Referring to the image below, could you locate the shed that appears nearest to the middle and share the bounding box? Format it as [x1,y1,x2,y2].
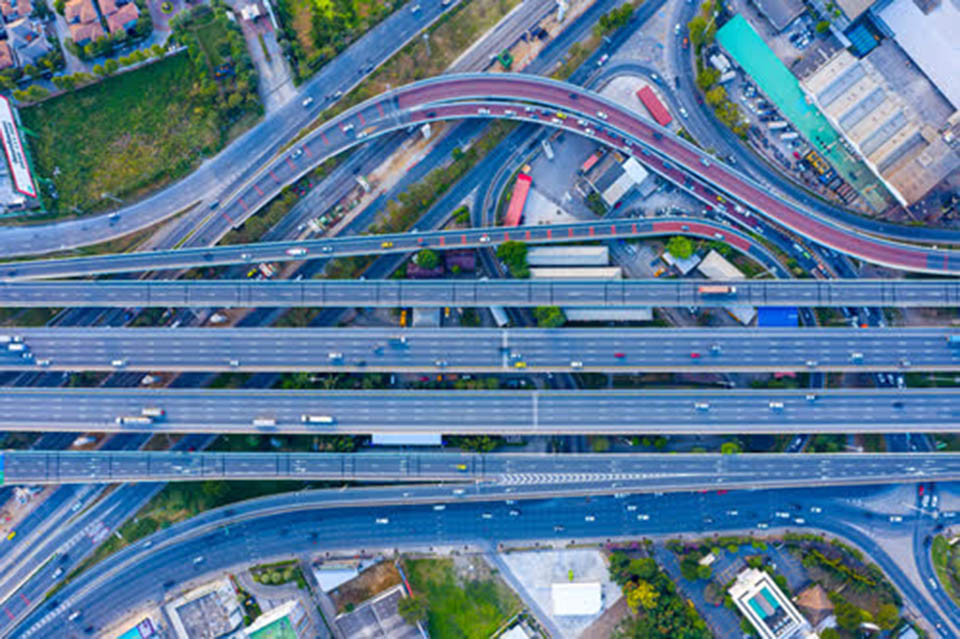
[482,306,516,327]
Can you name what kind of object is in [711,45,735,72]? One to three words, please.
truck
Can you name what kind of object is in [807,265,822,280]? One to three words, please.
vehicle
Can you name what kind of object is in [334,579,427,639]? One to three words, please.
building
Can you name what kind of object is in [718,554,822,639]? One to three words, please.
house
